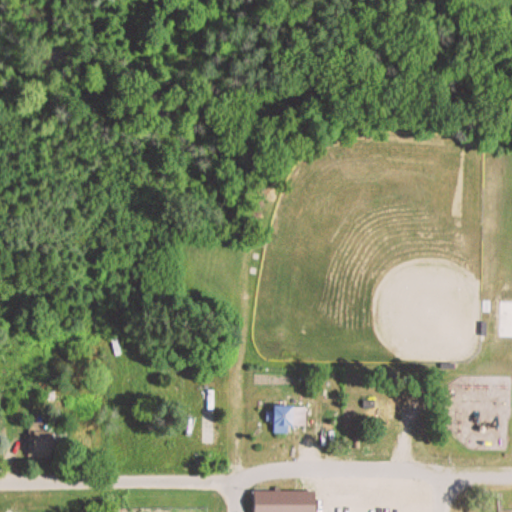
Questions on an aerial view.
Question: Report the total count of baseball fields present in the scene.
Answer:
1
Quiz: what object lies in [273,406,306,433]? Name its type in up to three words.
house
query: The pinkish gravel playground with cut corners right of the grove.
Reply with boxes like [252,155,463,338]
[450,376,512,451]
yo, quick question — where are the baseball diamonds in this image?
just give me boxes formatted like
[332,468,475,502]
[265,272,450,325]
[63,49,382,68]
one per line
[255,140,483,362]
